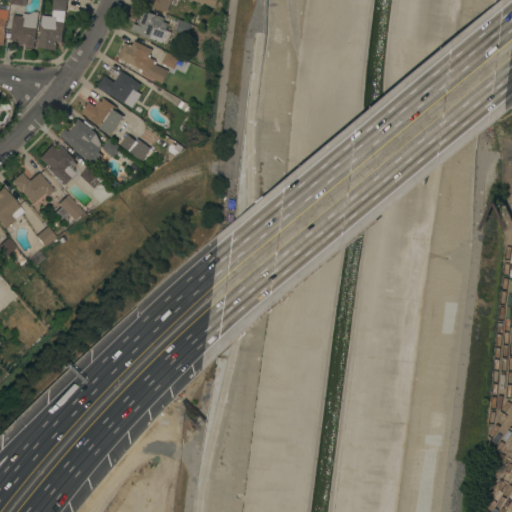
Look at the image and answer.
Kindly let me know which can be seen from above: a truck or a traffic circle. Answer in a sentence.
There is a truck in the scene.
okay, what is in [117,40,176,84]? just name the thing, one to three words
house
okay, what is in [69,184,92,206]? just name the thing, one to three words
swimming pool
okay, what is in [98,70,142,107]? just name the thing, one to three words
house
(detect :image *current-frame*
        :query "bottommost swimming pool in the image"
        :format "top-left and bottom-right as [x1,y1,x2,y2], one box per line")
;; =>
[16,228,32,252]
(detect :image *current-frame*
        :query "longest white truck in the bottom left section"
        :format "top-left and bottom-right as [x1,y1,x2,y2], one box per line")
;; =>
[48,382,80,414]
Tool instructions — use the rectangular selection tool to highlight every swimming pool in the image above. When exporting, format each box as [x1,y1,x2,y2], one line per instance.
[16,228,32,252]
[69,184,92,206]
[26,0,40,13]
[150,106,166,126]
[108,158,120,176]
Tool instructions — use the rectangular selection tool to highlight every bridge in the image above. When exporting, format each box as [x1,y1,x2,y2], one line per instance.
[203,0,512,372]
